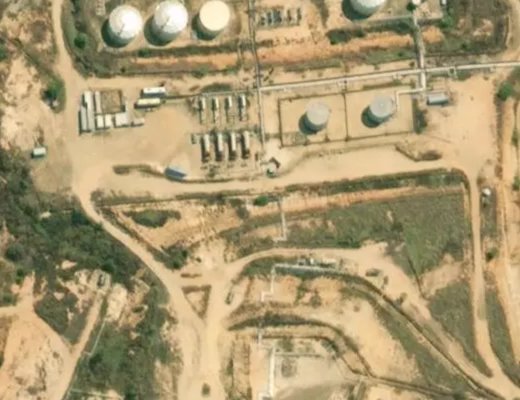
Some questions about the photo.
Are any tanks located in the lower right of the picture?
No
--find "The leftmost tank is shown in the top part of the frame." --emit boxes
[108,6,142,46]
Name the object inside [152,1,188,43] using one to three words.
storage tank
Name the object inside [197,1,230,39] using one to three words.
storage tank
